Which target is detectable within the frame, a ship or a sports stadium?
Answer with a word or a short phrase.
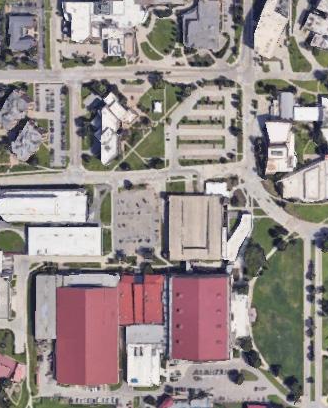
sports stadium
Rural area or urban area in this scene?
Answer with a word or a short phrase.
urban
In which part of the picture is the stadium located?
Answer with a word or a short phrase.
center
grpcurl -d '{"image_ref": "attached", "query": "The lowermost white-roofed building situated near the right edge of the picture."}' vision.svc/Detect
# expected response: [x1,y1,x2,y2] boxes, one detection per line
[282,157,328,201]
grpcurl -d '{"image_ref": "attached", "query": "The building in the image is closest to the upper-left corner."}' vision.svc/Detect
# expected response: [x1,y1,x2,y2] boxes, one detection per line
[9,14,37,51]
